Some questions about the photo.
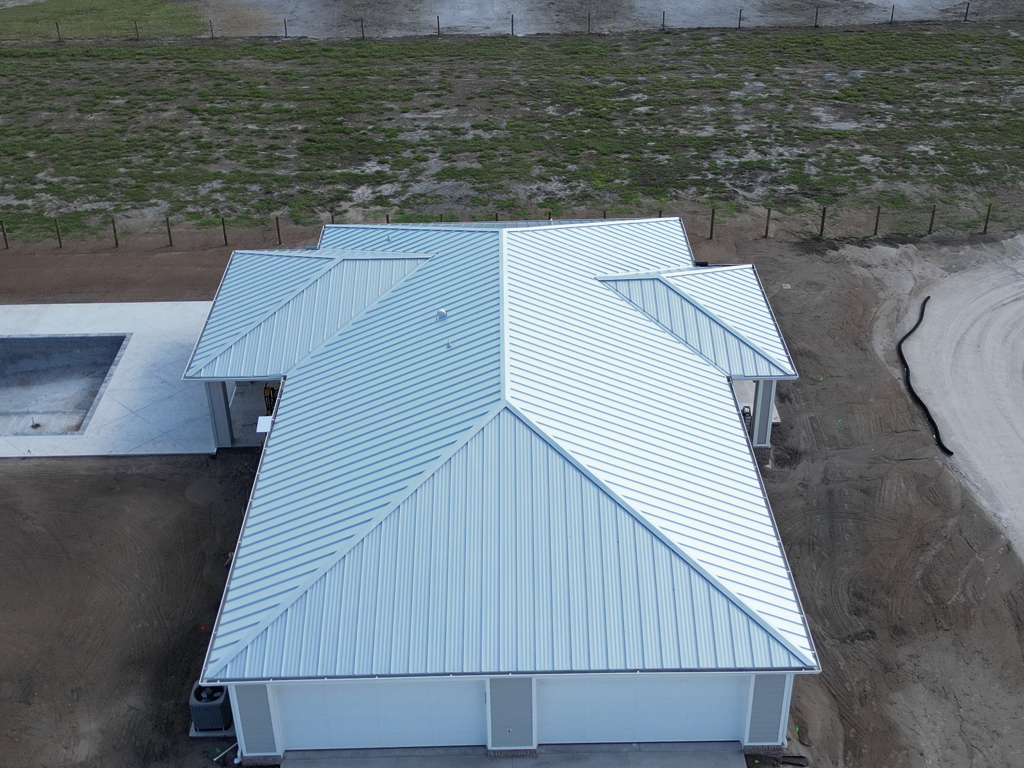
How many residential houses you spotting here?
1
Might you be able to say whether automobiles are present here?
No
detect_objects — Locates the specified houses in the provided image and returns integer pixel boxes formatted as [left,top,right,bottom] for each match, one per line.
[181,217,821,765]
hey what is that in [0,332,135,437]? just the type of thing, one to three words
swimming pool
